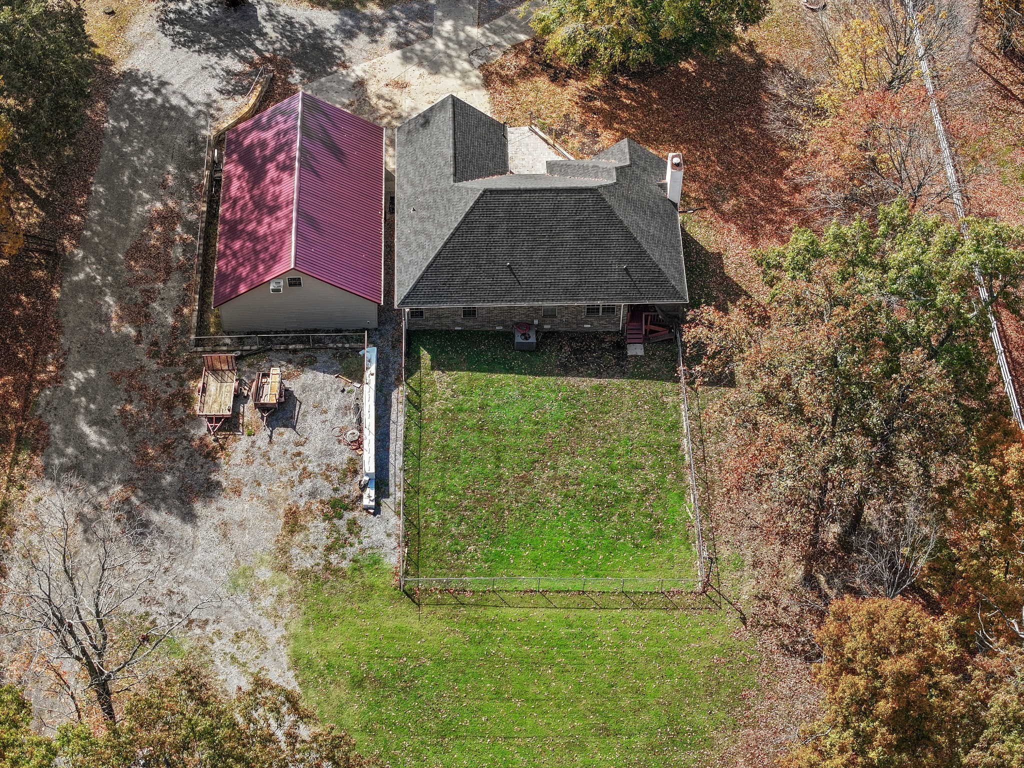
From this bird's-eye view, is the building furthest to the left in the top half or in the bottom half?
top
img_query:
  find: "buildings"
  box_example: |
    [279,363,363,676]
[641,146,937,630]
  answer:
[211,90,386,331]
[394,93,691,336]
